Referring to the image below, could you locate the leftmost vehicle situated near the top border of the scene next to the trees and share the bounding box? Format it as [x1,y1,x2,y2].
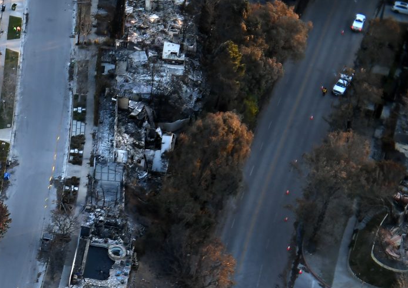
[349,11,367,30]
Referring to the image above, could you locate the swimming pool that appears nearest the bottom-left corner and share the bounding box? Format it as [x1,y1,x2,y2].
[82,243,116,280]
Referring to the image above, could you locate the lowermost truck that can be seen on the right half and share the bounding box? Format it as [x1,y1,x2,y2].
[331,68,354,92]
